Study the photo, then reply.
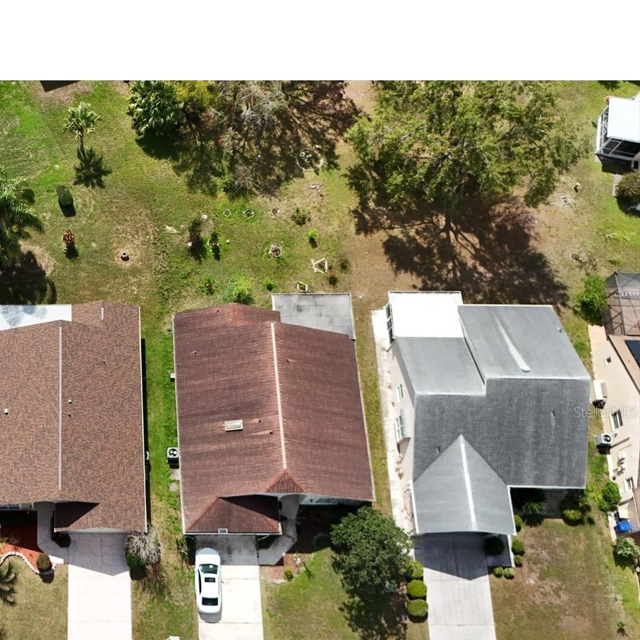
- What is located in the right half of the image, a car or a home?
home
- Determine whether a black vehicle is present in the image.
No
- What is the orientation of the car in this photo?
up and down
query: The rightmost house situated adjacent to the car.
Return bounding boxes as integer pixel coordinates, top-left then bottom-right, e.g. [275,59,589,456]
[173,293,374,535]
